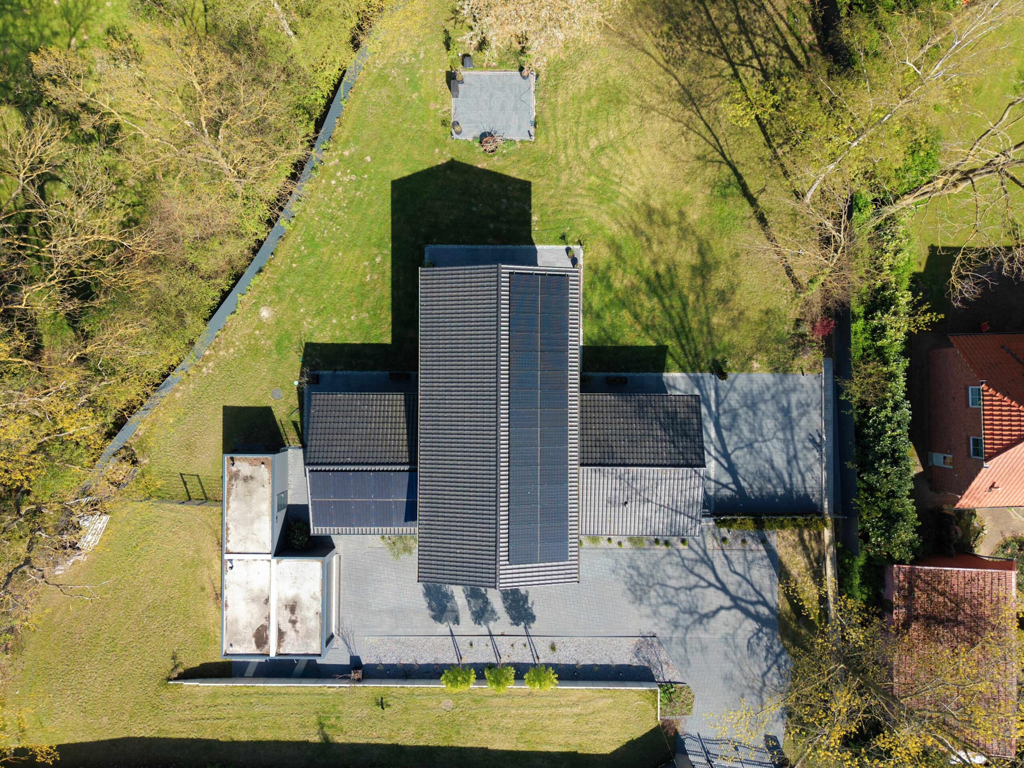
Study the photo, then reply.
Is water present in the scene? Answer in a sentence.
No, there is no water in the image.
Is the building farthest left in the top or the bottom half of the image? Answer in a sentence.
The building farthest left is in the bottom half of the image.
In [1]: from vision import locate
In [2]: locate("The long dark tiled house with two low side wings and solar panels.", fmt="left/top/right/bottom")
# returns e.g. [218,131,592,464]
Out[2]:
[303,261,707,592]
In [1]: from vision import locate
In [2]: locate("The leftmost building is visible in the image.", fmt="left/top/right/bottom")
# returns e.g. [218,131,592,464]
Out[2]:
[222,451,340,658]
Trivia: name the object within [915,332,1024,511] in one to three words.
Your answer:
house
